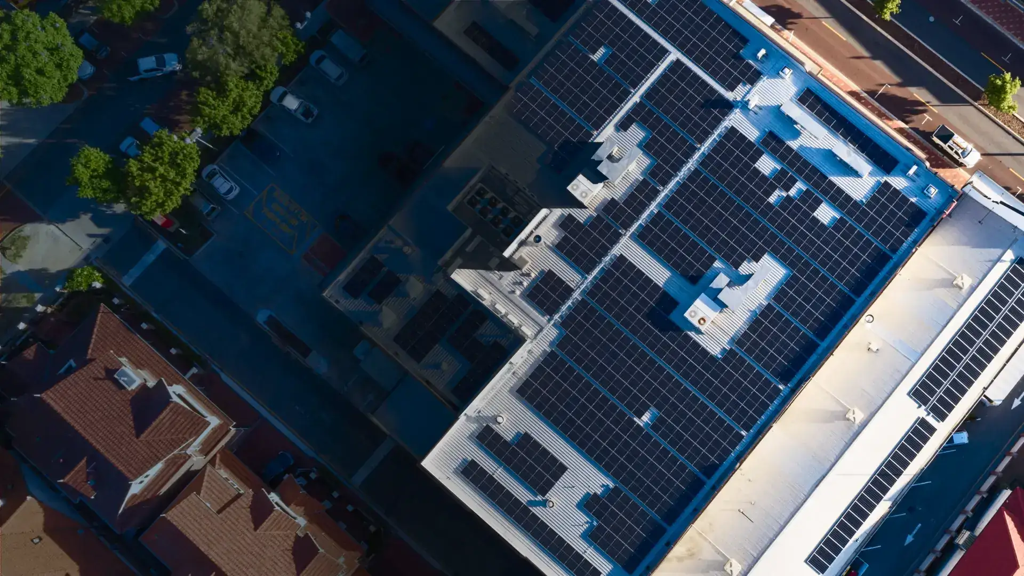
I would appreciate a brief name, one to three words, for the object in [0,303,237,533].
house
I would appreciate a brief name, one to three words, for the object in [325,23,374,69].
vehicle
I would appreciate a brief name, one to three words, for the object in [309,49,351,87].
car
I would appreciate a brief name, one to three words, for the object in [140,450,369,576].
house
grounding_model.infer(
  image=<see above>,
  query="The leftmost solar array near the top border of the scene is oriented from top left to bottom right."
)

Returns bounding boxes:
[466,18,522,68]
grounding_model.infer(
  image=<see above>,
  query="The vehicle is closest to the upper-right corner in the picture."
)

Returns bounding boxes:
[931,122,983,166]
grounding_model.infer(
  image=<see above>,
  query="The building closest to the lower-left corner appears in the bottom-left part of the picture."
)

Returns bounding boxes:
[0,460,148,576]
